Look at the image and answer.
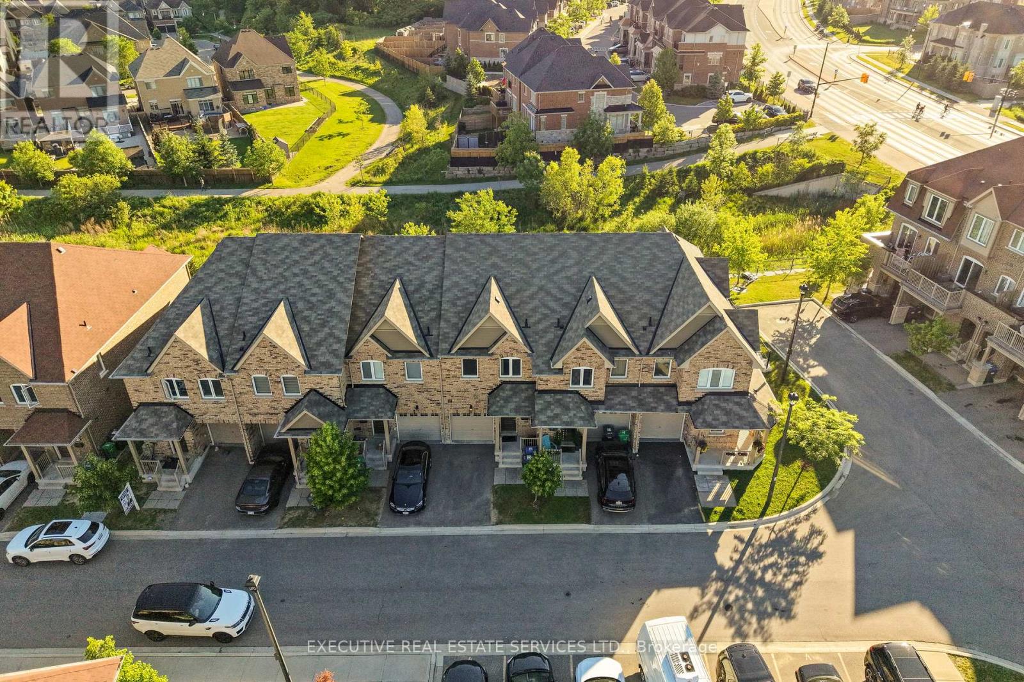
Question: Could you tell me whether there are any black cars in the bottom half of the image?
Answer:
Yes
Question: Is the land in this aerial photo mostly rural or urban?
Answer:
urban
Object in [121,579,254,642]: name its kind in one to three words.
car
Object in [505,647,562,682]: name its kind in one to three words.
car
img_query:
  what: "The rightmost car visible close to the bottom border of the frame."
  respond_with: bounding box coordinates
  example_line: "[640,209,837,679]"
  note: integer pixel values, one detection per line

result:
[861,627,941,682]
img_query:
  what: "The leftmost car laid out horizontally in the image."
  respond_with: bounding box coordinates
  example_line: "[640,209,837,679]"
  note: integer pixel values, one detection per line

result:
[1,514,113,564]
